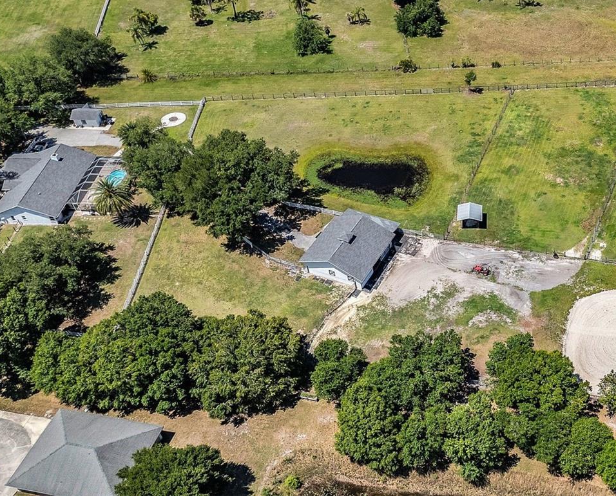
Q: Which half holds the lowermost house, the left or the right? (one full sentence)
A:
The lowermost house is on the left side of the image.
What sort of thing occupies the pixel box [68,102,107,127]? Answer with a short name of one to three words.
shed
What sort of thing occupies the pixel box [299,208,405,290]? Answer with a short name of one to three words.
barn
